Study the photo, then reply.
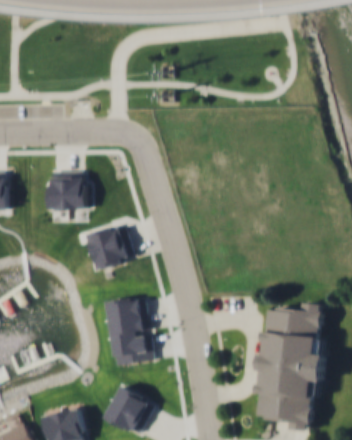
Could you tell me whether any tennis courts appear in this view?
No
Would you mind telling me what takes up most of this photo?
grass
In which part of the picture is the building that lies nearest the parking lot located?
bottom right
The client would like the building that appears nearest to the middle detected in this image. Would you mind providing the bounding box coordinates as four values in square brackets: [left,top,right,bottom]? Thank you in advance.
[86,227,136,270]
